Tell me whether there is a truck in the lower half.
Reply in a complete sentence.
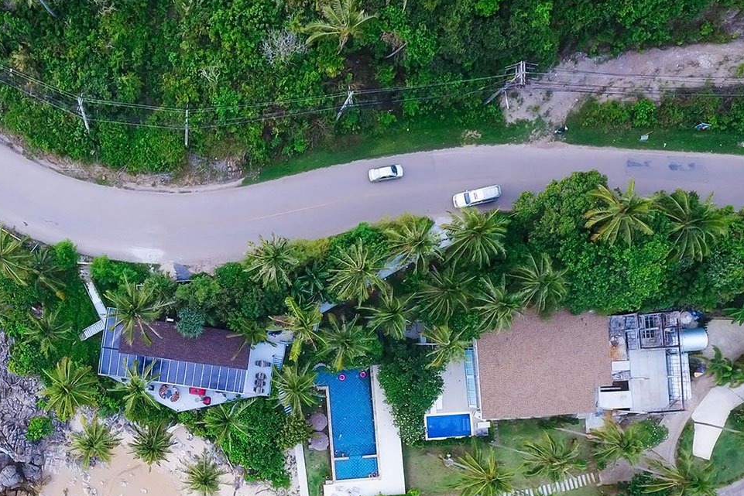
No, looking in the lower half, there is no truck.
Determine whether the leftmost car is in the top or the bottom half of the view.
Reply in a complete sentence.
It is in the top half that the leftmost car appears.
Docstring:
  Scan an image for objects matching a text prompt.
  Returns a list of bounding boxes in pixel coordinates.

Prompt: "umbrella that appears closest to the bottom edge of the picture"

[310,431,331,451]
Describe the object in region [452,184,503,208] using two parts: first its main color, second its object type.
white truck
